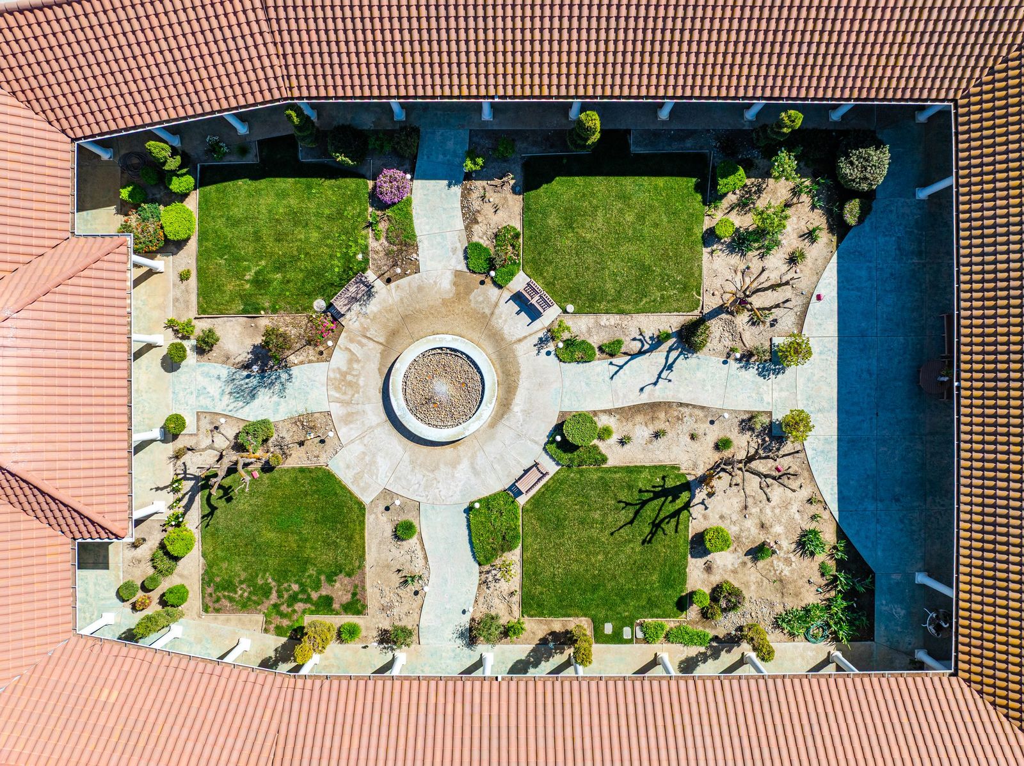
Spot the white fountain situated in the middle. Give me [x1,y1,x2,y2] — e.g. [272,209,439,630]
[390,335,497,442]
